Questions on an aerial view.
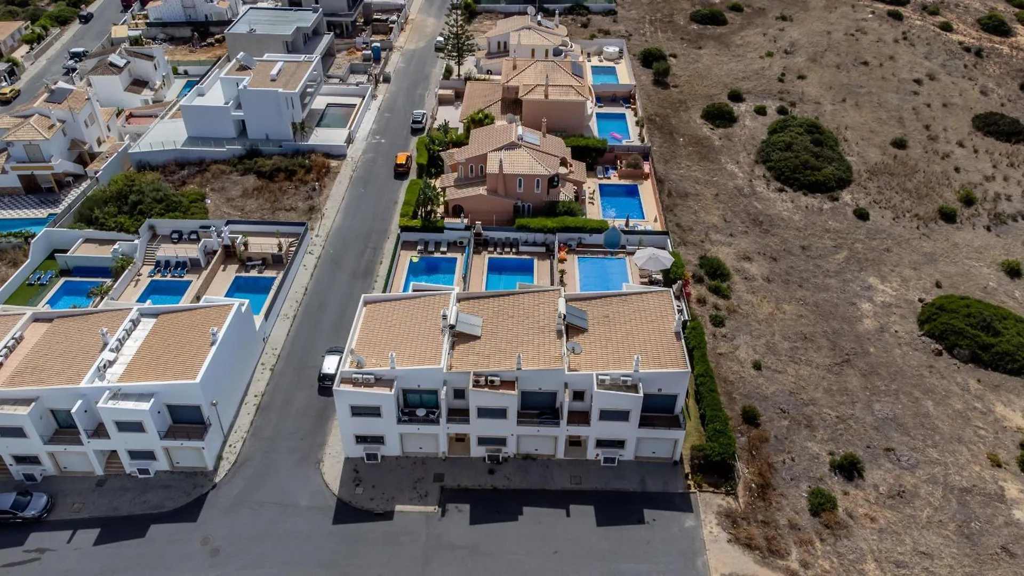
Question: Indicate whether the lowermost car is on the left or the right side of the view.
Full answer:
The lowermost car sits on the left side.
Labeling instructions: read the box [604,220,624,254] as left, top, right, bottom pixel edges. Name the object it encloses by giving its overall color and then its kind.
blue umbrella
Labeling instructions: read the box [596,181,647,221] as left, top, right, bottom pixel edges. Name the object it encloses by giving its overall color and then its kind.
blue swimming pool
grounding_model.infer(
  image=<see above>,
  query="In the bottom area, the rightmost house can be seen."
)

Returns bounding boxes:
[561,281,690,472]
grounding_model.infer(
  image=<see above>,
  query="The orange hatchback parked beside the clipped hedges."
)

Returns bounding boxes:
[394,149,415,170]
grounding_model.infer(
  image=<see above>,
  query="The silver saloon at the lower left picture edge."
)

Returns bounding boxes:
[0,484,59,519]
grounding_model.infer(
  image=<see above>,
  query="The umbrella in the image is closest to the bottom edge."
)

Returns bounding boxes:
[629,252,677,282]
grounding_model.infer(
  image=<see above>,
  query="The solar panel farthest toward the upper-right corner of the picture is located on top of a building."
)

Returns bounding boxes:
[566,59,584,79]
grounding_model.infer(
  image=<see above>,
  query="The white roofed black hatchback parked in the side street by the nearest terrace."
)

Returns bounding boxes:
[317,346,343,384]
